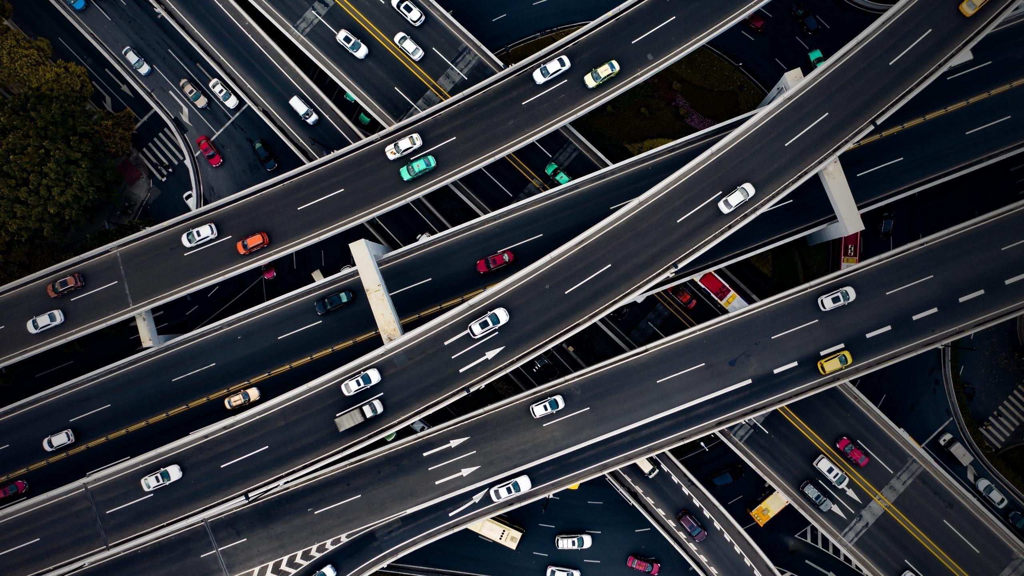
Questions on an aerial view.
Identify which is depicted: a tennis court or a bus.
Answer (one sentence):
The one in the frame is a bus.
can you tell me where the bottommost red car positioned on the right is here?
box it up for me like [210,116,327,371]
[625,554,661,576]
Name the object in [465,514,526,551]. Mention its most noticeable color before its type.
white bus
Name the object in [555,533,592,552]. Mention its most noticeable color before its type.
white car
